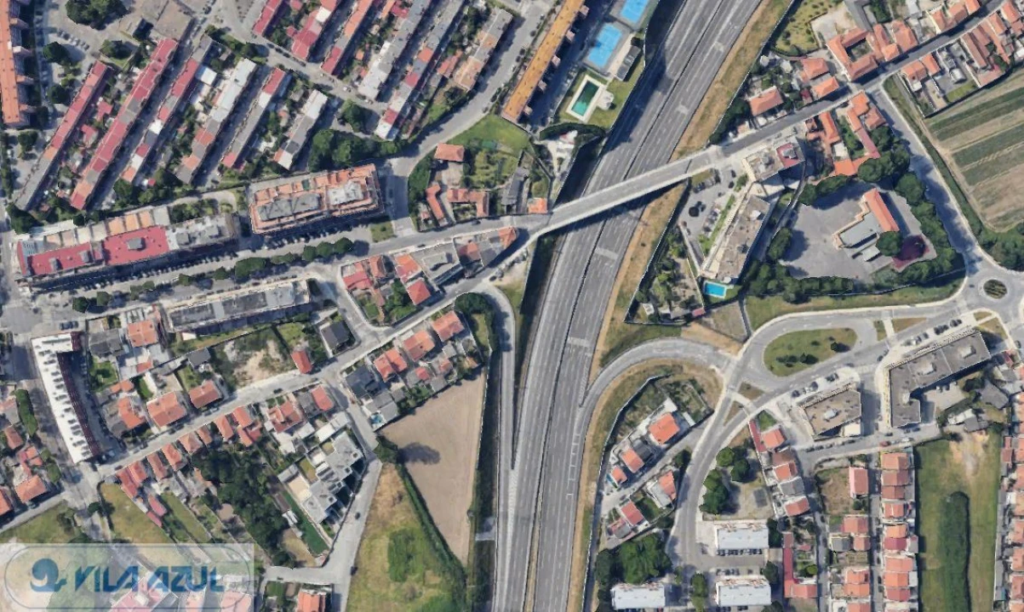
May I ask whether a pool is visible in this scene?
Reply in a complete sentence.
Yes, I can see a pool in this picture.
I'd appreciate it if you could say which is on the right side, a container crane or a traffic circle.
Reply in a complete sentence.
Visible on the right side is a traffic circle.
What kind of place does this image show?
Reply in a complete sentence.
What you see here is a residential area.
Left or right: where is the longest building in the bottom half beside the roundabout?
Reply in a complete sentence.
The longest building in the bottom half beside the roundabout sits on the right side.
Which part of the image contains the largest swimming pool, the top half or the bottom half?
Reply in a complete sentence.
The largest swimming pool is in the top half of the image.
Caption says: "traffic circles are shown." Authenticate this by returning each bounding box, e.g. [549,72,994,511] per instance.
[971,264,1020,314]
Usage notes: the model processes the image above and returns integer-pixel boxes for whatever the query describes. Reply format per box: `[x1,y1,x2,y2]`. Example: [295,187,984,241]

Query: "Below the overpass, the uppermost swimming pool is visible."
[702,280,727,298]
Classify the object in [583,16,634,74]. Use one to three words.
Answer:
sports court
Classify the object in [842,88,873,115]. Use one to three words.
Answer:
house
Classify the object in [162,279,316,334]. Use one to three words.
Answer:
building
